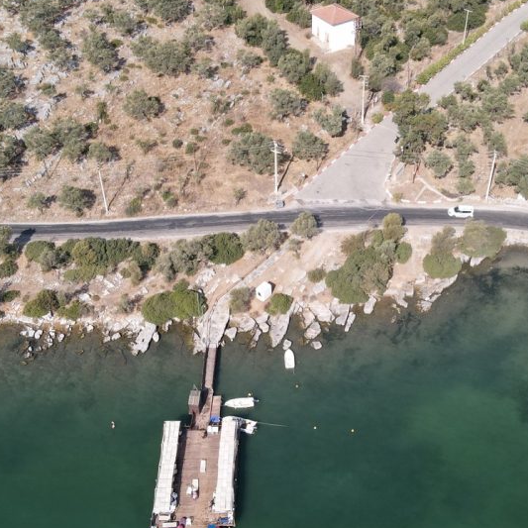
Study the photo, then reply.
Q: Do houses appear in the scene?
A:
Yes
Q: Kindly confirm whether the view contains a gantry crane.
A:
No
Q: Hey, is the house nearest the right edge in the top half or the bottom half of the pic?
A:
top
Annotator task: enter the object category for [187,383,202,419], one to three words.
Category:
building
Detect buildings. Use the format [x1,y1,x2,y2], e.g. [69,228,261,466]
[187,383,202,419]
[253,281,272,303]
[304,6,357,56]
